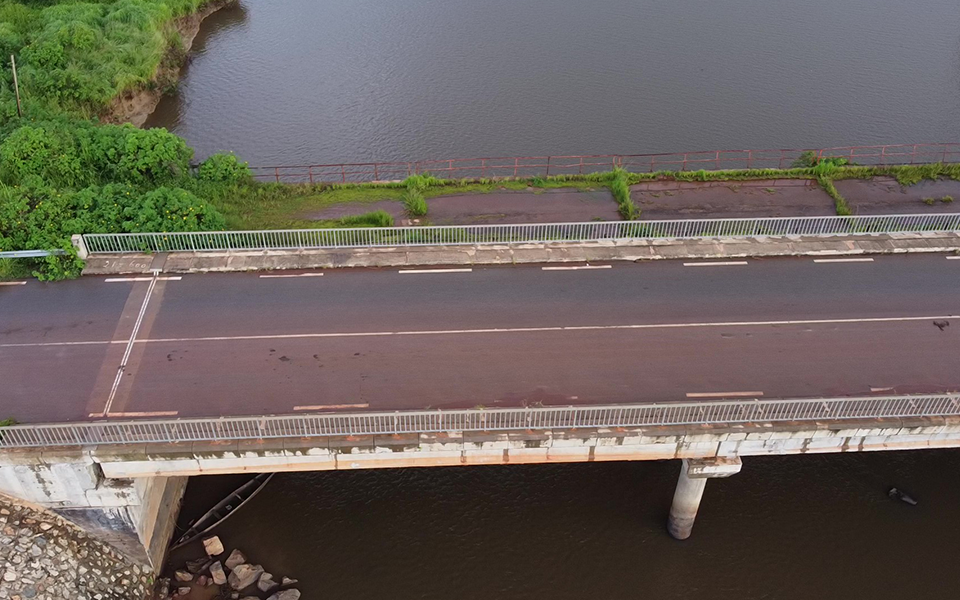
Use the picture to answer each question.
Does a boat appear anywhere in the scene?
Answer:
Yes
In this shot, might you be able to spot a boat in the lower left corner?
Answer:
Yes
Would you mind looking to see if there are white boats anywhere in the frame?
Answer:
No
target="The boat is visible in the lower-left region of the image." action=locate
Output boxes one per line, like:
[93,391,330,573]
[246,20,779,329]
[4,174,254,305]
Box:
[169,471,278,550]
